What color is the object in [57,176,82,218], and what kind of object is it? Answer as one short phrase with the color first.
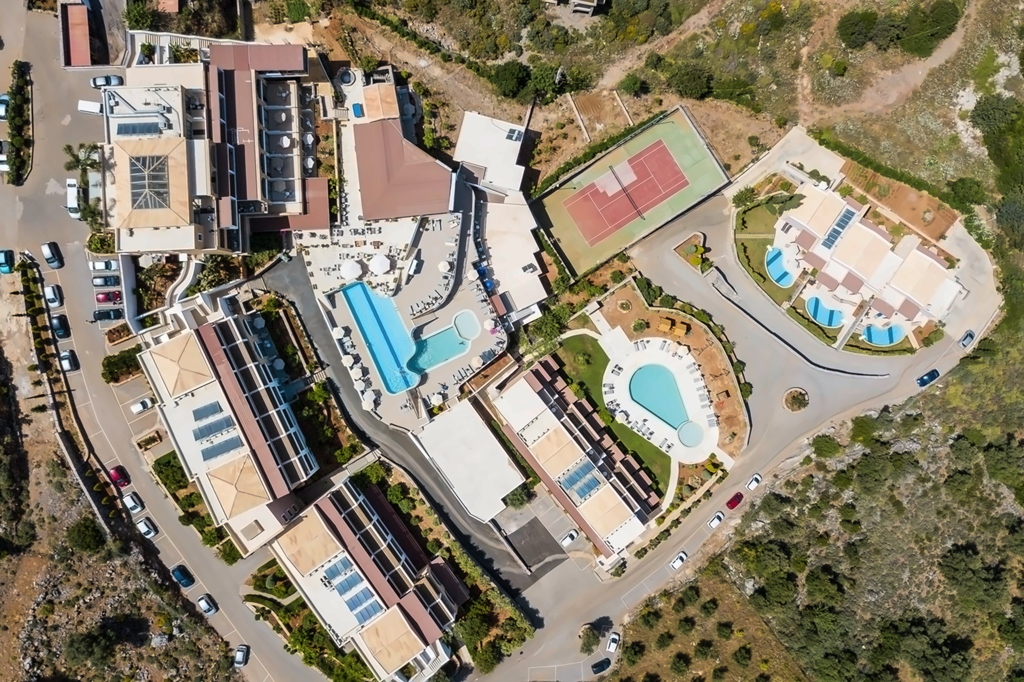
white vehicle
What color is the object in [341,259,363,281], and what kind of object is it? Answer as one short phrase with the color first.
white umbrella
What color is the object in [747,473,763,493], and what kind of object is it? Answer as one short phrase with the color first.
white car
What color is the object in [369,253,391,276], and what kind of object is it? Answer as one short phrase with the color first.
white umbrella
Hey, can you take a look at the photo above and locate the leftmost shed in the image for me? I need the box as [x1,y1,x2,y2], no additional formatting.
[67,5,101,68]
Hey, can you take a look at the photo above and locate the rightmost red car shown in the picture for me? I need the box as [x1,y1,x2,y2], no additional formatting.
[727,492,744,512]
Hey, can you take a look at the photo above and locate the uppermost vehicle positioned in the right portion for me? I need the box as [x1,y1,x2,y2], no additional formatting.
[959,328,977,348]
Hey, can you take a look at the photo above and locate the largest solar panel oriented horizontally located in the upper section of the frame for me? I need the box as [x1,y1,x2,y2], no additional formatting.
[117,123,160,135]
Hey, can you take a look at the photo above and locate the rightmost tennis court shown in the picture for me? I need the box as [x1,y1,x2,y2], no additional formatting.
[533,107,729,277]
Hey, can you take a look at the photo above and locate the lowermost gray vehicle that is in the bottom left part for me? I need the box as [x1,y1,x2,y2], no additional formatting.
[234,645,248,670]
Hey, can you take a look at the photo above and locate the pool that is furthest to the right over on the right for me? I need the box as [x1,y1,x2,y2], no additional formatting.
[862,323,906,347]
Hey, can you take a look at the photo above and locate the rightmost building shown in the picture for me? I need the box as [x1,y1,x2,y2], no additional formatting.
[866,245,962,321]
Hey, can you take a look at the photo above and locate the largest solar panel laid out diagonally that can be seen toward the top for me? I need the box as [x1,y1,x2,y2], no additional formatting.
[821,208,856,249]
